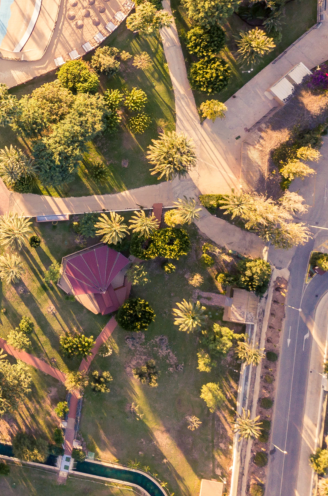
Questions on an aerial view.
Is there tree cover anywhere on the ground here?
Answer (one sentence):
Yes, there is tree cover in the image.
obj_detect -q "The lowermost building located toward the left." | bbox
[56,242,130,314]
